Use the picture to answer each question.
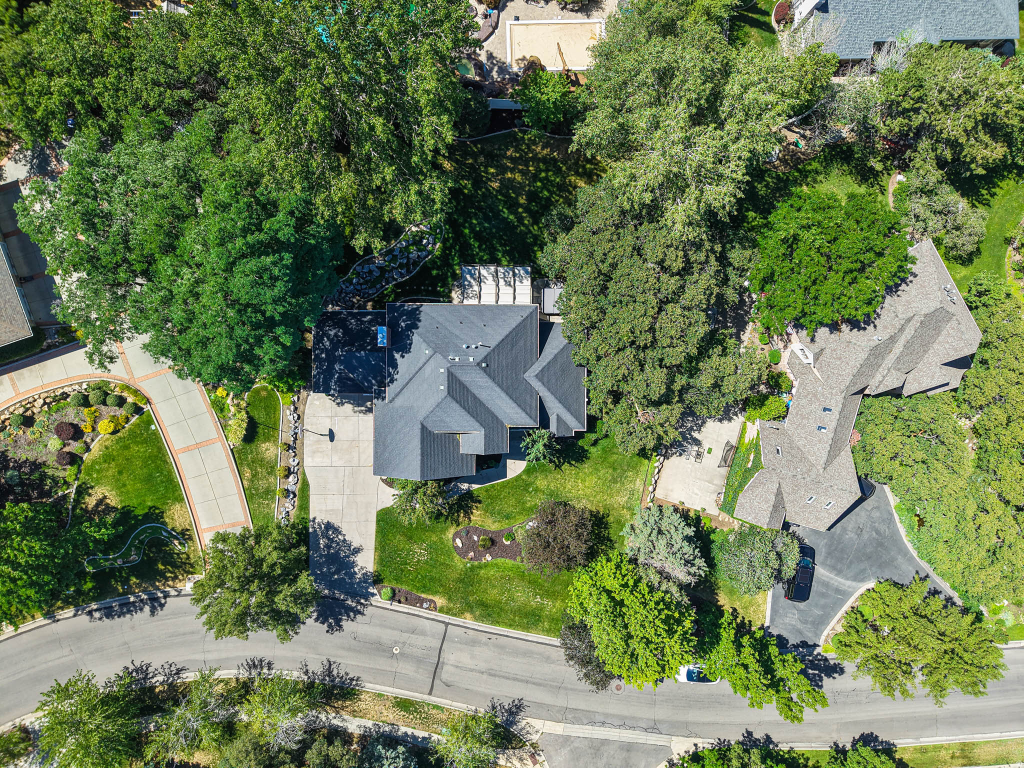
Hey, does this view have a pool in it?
Yes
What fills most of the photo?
trees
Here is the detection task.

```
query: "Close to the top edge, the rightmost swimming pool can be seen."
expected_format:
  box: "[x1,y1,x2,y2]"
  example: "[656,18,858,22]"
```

[506,17,606,70]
